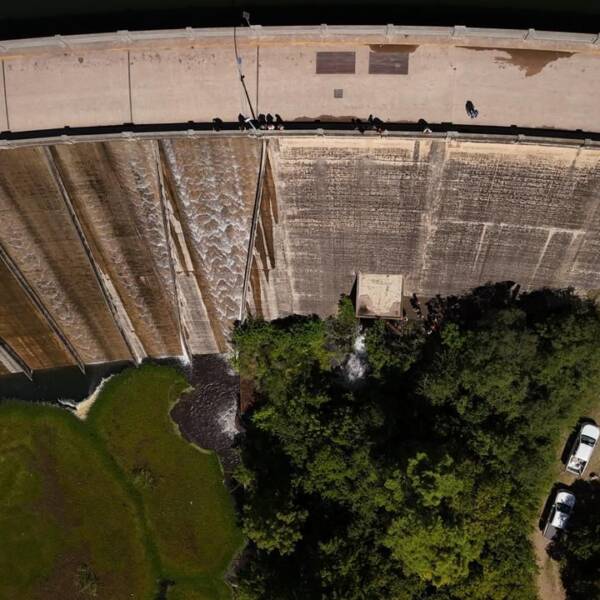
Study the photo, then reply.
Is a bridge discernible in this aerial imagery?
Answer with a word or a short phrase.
No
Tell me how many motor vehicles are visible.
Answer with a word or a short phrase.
two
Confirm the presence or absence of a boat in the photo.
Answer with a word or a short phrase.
No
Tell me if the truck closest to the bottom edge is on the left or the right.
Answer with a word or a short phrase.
right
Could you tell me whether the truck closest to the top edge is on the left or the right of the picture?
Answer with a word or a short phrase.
right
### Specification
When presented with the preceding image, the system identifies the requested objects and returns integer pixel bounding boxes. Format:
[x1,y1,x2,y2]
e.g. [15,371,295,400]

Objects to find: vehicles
[540,485,573,543]
[562,421,598,478]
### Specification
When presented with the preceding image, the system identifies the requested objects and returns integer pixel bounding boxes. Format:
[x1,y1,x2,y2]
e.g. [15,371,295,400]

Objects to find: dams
[0,24,600,375]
